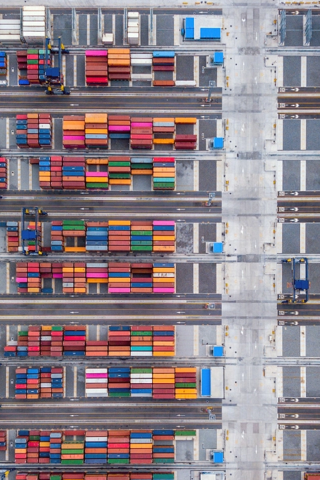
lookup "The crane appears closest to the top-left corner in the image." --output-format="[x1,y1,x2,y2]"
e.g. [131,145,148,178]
[44,37,72,96]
